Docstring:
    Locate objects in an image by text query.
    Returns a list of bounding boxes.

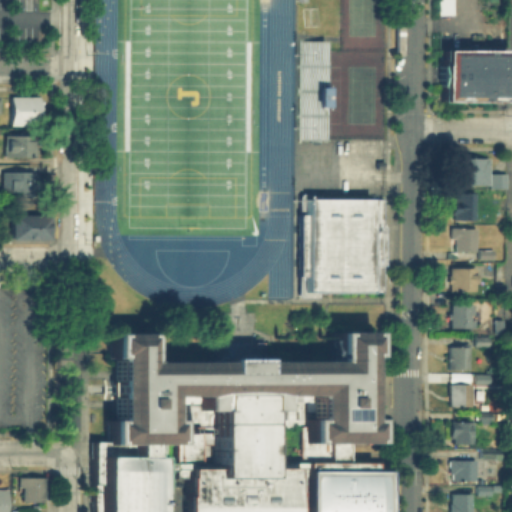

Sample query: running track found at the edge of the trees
[97,0,296,303]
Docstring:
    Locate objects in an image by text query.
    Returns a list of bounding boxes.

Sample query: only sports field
[117,0,260,236]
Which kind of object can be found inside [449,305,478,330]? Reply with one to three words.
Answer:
house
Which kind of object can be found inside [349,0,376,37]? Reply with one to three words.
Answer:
tennis court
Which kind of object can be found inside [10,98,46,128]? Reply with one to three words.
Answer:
house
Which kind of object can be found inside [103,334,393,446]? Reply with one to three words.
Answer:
building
